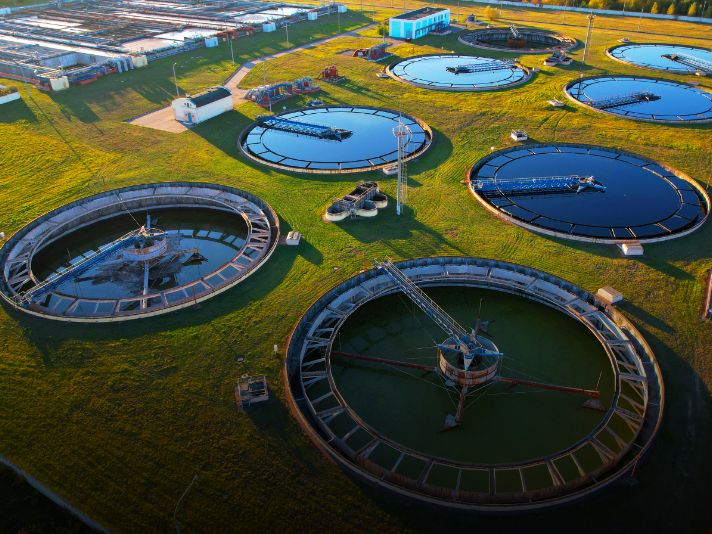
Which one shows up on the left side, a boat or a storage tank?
storage tank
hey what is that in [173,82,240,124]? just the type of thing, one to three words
shed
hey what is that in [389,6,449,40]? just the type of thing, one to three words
building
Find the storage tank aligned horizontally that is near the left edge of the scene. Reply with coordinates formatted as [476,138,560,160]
[0,182,282,323]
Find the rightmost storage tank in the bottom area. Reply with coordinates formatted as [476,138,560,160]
[286,257,665,512]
